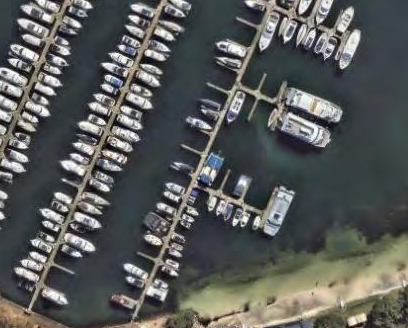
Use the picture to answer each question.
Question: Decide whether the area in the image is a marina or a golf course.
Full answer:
The area seen from above is a marina.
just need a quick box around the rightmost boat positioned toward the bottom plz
[265,186,295,235]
